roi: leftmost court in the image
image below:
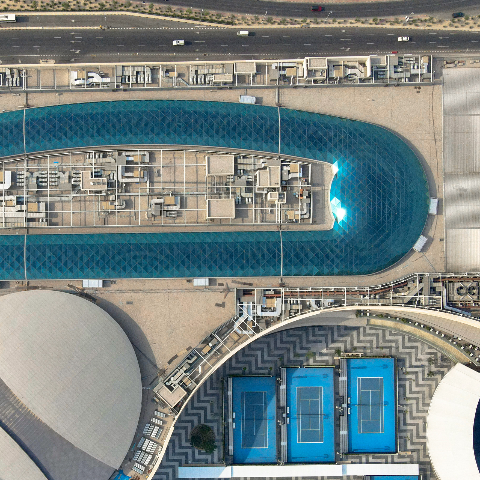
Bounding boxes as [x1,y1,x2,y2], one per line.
[232,377,276,464]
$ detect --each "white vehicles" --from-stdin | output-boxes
[173,40,184,46]
[0,14,16,24]
[397,37,409,42]
[236,31,249,37]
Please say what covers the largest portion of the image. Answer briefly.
buildings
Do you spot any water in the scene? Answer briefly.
No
